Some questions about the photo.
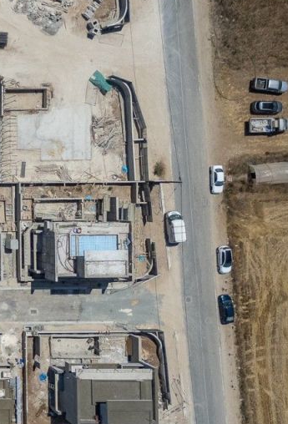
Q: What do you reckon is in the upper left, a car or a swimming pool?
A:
swimming pool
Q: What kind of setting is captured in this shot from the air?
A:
residential area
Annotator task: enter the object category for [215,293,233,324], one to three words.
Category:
car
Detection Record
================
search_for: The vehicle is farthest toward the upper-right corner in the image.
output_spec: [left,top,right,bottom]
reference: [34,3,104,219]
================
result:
[248,78,286,94]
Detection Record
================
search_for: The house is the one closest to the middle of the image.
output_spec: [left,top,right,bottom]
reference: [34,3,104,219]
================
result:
[38,220,130,281]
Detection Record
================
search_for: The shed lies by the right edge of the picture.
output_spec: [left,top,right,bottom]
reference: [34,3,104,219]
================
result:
[248,162,288,186]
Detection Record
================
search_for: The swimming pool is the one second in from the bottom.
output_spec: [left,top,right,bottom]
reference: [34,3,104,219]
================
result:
[29,197,81,220]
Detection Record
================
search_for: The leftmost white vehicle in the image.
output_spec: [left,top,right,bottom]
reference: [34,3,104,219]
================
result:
[165,211,187,244]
